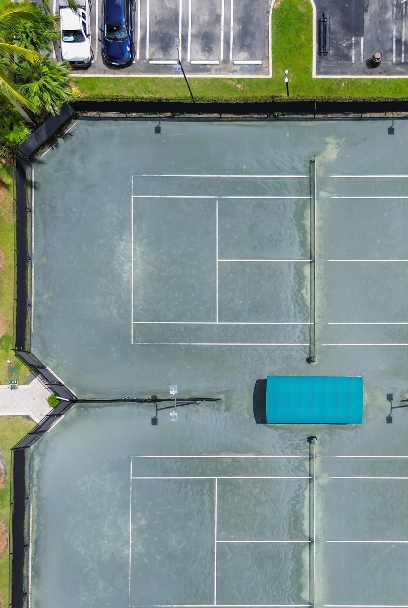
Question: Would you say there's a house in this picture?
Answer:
No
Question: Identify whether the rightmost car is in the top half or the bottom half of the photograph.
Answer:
top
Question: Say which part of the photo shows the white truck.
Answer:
top left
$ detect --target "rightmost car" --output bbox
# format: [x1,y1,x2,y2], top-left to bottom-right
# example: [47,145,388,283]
[98,0,138,66]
